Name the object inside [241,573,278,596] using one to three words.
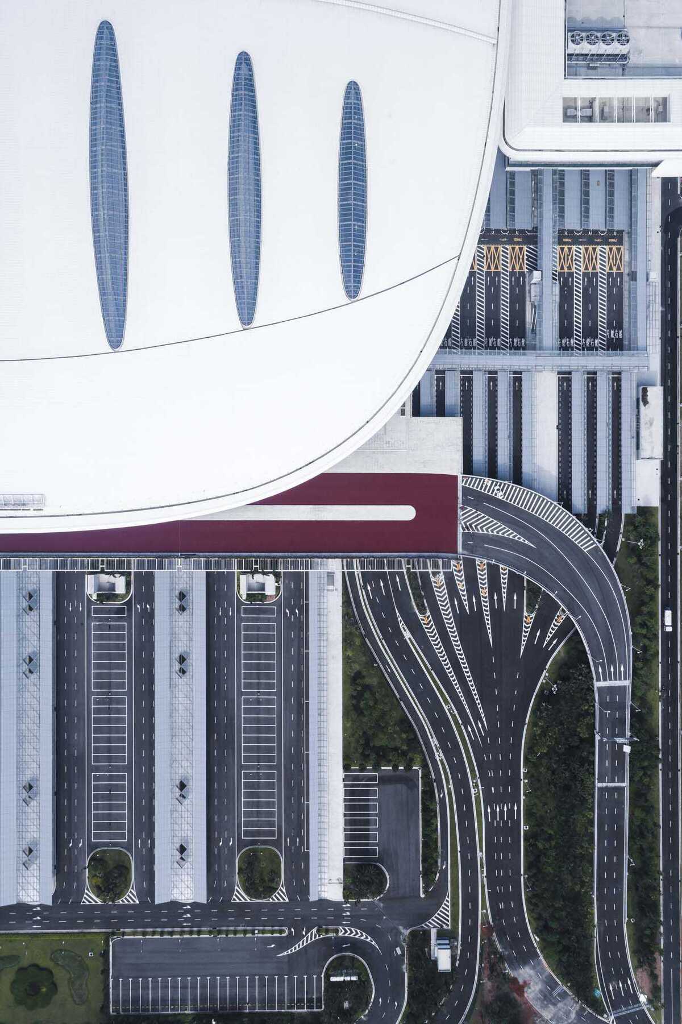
building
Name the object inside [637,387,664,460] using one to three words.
building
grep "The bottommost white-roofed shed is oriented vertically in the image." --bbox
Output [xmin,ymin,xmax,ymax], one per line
[436,934,451,972]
